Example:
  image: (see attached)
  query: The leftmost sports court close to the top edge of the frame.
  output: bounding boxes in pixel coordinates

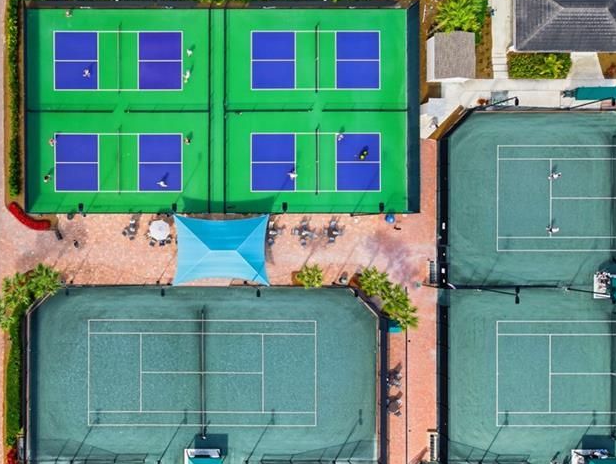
[27,8,217,111]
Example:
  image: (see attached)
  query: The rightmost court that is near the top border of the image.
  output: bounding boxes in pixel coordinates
[217,8,407,111]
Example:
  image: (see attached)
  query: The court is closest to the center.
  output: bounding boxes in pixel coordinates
[217,111,407,212]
